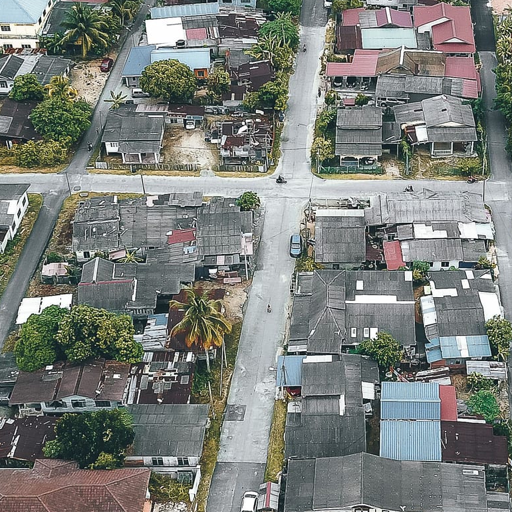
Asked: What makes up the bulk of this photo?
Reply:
buildings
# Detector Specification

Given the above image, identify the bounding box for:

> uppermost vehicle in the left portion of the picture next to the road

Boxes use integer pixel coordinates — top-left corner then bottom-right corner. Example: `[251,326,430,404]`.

[98,58,116,72]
